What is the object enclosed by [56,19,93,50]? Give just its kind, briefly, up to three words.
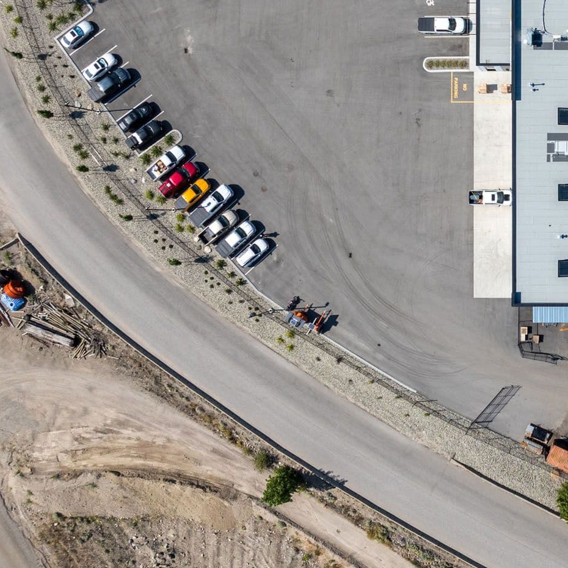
car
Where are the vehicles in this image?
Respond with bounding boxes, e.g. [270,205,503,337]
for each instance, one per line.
[418,14,464,33]
[56,19,93,50]
[141,142,187,181]
[186,185,233,226]
[288,298,298,311]
[82,64,131,103]
[119,117,165,153]
[172,175,214,212]
[211,217,257,258]
[111,99,156,134]
[233,236,268,268]
[195,206,240,246]
[155,159,200,198]
[79,50,116,81]
[468,189,512,206]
